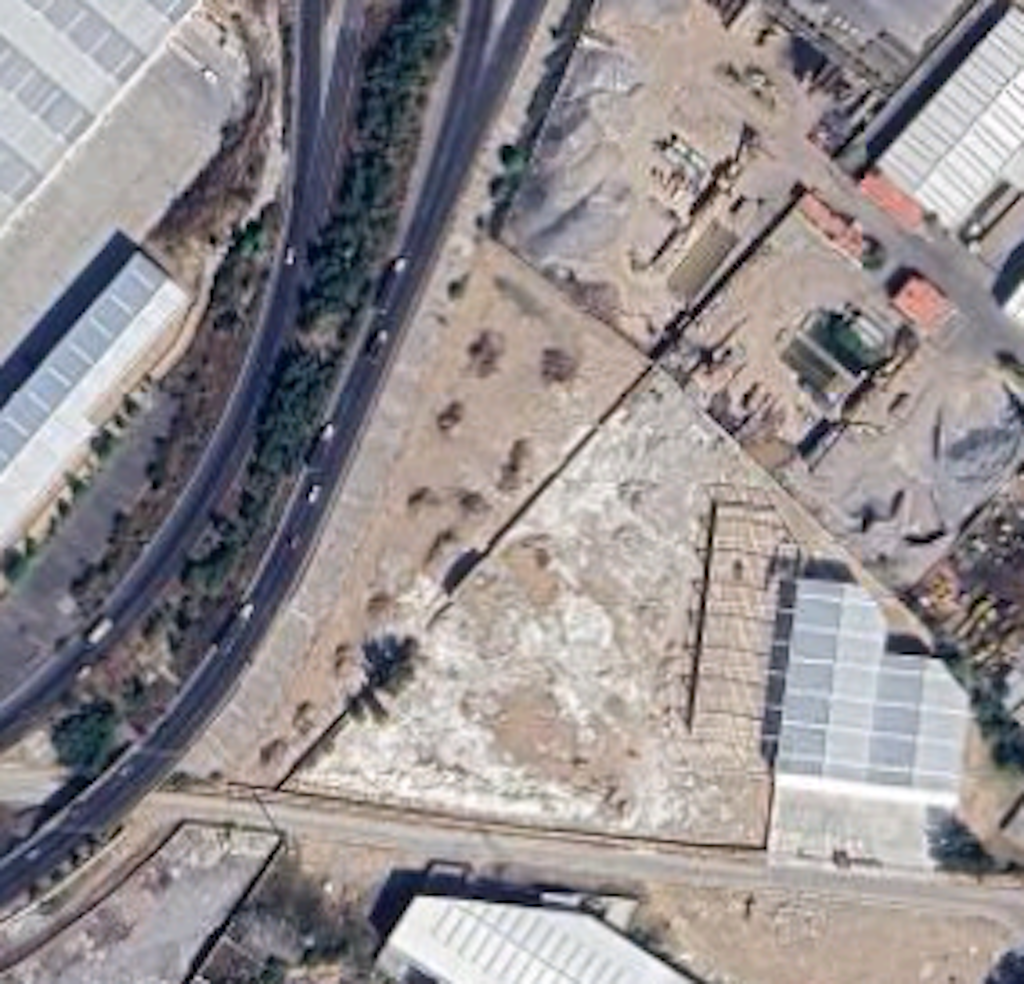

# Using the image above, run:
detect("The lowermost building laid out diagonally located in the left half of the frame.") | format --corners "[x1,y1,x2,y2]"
[0,252,189,524]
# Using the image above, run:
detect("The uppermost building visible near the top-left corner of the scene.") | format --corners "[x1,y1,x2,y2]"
[0,0,202,233]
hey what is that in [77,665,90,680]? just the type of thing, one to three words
vehicle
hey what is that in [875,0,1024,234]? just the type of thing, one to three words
warehouse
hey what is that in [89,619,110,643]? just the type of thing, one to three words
truck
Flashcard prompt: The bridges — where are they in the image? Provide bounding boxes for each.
[0,741,188,900]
